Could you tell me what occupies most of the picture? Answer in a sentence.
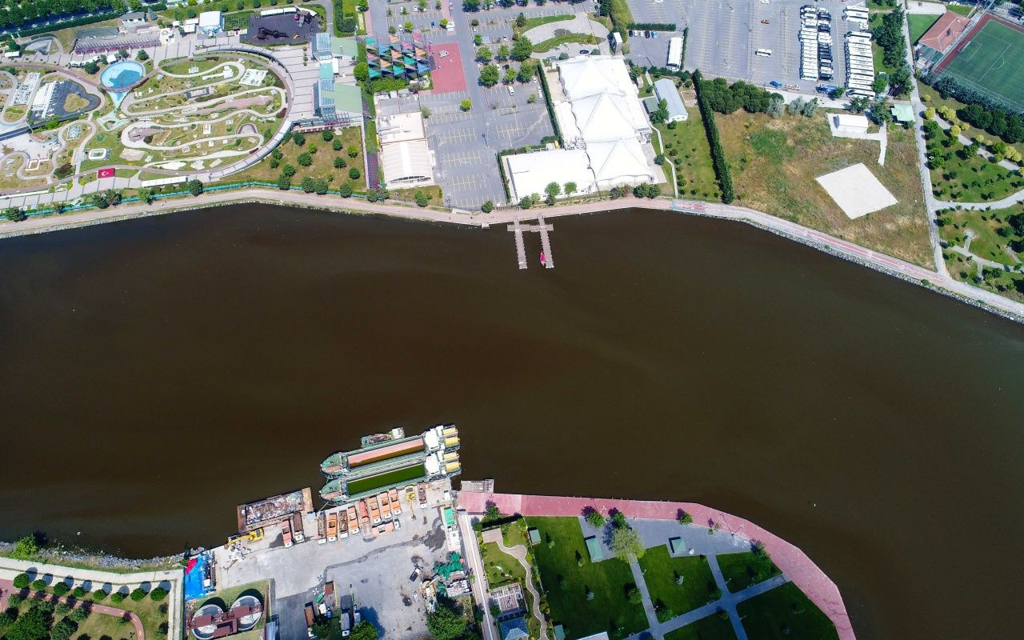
The largest share of the image is taken up by water.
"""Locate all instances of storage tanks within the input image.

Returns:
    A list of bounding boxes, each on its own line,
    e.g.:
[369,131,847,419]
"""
[224,596,266,633]
[186,604,231,640]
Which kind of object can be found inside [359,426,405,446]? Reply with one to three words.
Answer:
boat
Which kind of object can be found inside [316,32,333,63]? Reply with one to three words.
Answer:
building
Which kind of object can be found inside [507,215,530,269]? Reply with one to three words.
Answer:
pier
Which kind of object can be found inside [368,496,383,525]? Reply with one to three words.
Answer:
vehicle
